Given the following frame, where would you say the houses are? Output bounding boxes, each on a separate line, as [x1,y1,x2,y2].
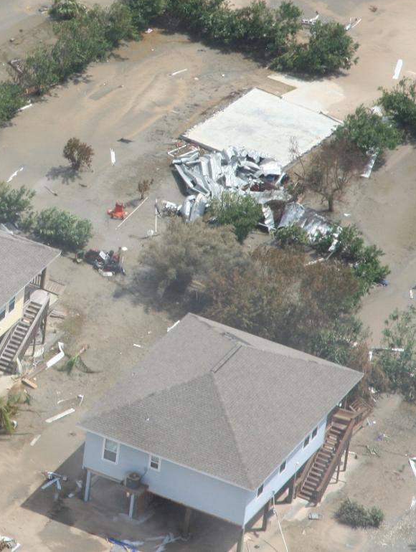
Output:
[0,231,64,375]
[75,313,367,552]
